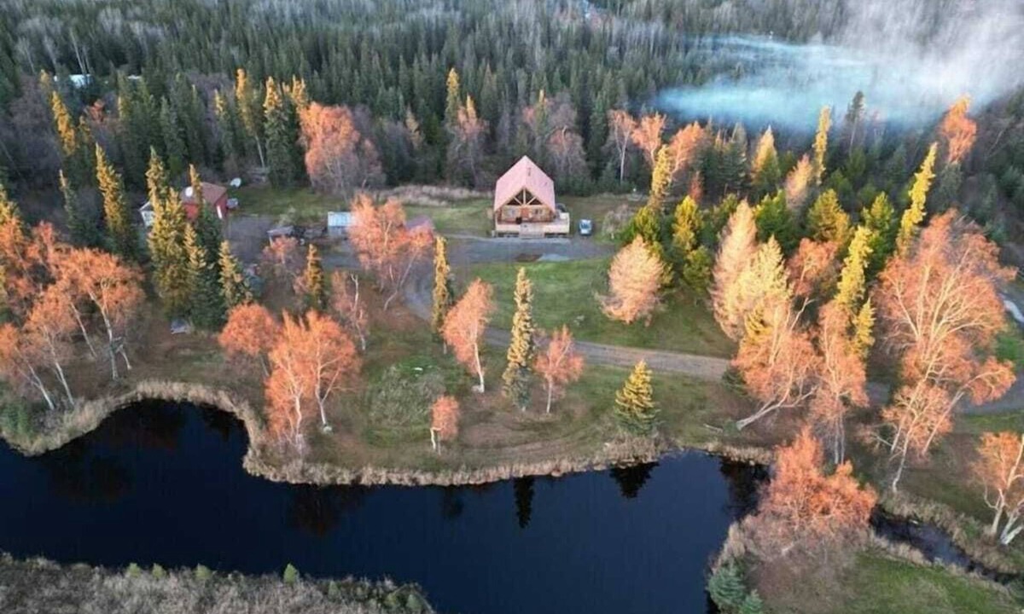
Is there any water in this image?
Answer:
Yes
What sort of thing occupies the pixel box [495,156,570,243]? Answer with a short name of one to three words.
building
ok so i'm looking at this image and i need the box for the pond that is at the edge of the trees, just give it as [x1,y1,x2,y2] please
[0,403,1024,614]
